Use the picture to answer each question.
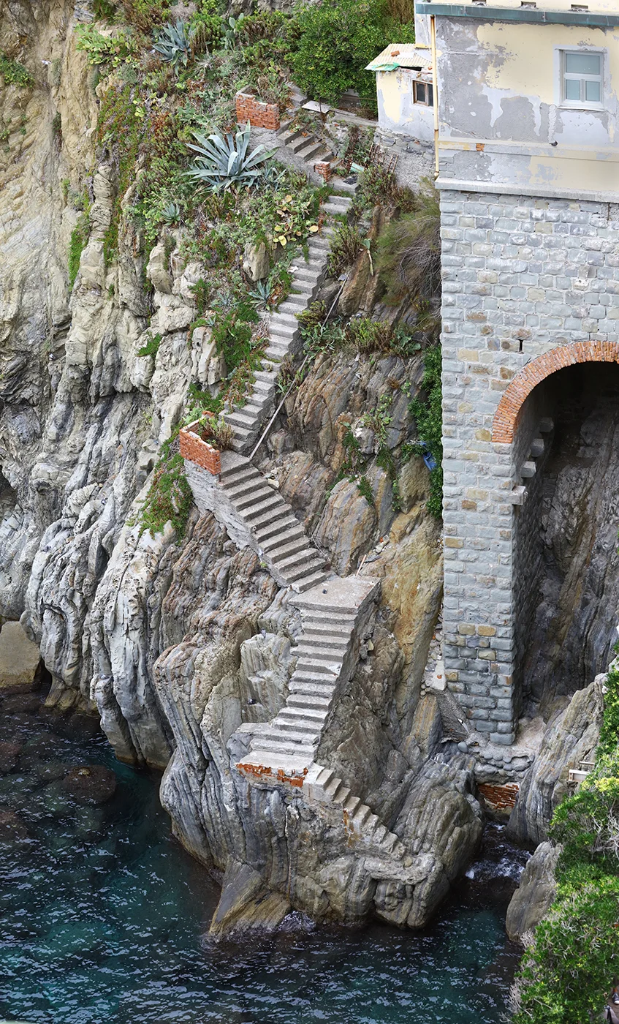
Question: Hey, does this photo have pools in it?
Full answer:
No, I can see no pool in this picture.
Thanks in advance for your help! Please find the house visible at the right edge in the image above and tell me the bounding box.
[411,0,619,764]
